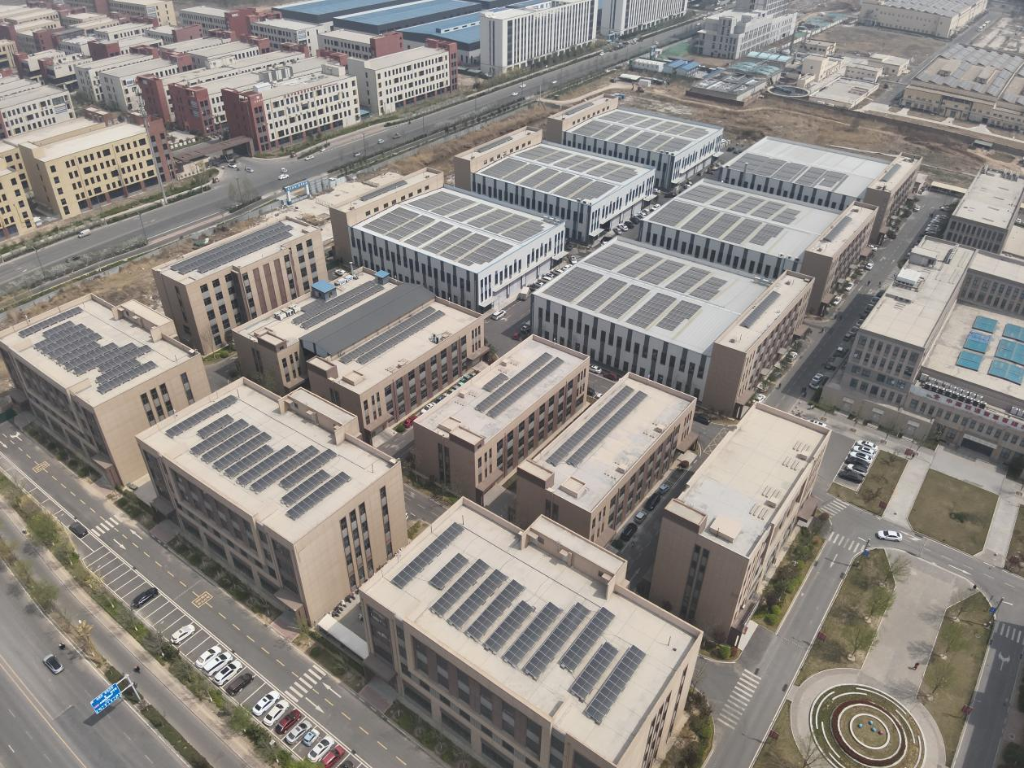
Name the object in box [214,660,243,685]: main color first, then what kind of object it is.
white car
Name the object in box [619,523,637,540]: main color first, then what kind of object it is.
black car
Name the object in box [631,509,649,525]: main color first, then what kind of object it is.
gray car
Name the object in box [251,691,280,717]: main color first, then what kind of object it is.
white car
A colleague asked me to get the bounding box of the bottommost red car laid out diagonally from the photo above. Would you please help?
[317,742,347,768]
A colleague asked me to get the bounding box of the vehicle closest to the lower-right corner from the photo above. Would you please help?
[877,528,903,544]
